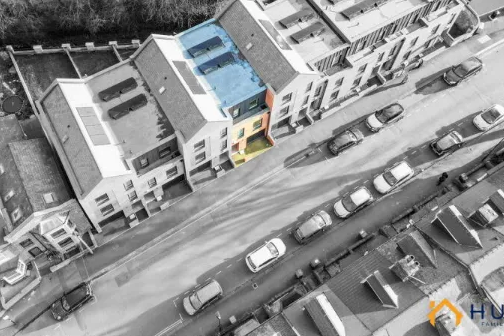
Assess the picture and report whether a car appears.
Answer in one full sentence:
Yes, the image includes a car.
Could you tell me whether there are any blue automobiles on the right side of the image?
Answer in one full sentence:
No, looking on the right side of the image, there is no blue automobile.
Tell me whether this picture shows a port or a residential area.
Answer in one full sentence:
This looks like a residential area.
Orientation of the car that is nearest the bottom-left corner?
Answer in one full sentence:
What the image shows is the car that is nearest the bottom-left corner lying at an angle.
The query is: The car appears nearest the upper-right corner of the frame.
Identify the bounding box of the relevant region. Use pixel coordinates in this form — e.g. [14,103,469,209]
[444,58,483,86]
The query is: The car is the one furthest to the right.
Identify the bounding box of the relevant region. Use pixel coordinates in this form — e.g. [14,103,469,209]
[472,103,504,130]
